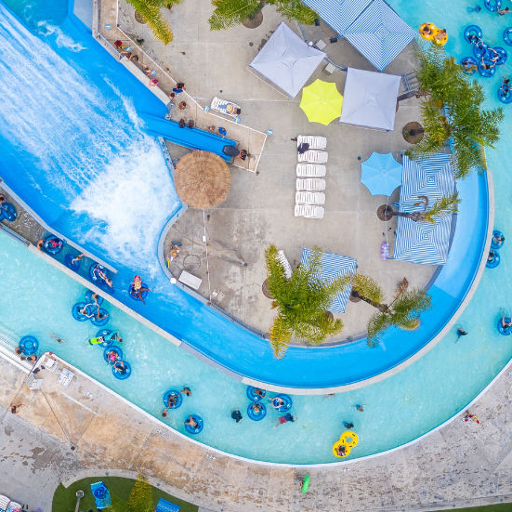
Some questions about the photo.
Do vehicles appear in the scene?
No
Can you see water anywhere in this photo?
Yes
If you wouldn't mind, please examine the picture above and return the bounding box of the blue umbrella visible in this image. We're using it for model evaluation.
[359,151,401,193]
